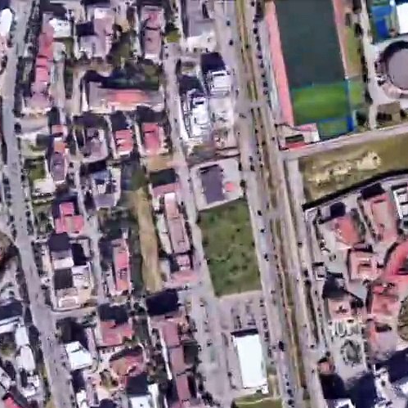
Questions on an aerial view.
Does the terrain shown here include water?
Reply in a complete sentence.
No, there is no water in the image.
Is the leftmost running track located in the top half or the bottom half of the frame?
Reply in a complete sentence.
You can find the leftmost running track in the top half.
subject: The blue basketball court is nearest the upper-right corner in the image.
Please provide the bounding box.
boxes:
[373,0,396,40]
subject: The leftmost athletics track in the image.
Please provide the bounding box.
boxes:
[264,0,293,124]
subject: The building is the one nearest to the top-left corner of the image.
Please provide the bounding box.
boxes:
[0,9,13,41]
